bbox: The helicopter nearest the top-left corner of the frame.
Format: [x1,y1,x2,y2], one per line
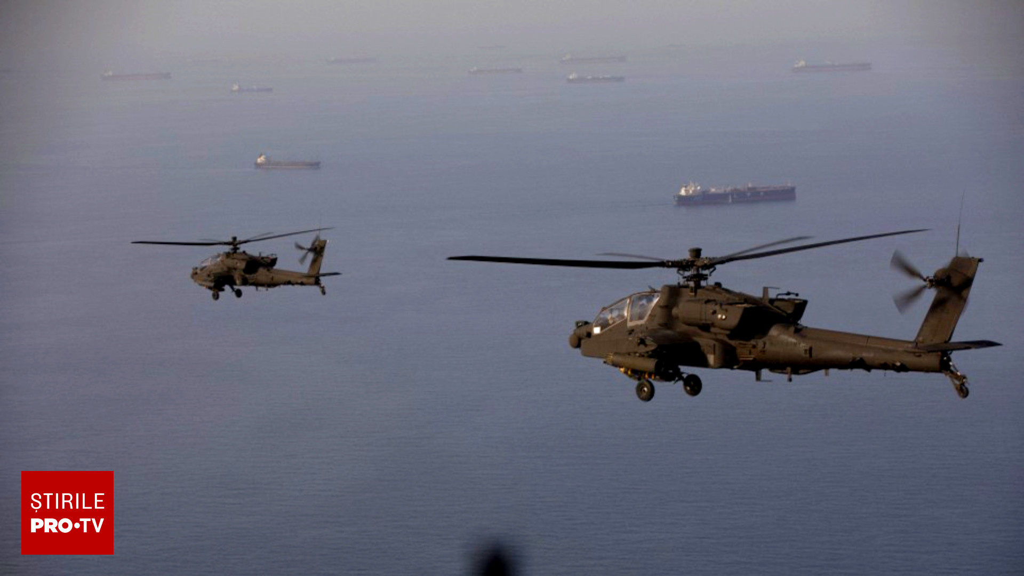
[131,217,339,301]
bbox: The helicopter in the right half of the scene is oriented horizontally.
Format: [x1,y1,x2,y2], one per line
[447,191,1006,402]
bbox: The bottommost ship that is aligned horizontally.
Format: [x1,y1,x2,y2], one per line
[672,180,796,205]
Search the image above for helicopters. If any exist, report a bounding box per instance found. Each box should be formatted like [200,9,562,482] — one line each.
[447,191,1006,402]
[131,217,339,301]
